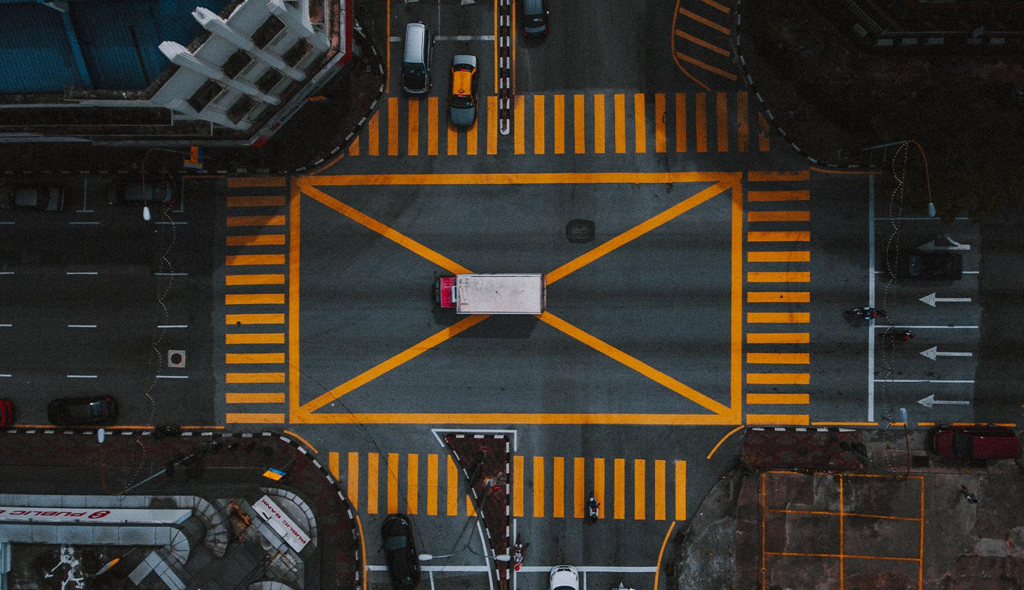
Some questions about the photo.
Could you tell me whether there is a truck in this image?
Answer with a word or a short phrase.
Yes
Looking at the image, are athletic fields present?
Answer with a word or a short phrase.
No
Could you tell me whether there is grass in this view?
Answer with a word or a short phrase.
No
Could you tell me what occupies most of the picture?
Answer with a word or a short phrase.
paved ground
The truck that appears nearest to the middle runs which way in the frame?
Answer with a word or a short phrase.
horizontally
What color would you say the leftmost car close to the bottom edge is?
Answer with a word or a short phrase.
black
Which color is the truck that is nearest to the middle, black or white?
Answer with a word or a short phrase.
white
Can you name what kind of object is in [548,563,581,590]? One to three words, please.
car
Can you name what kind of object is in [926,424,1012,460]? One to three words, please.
vehicle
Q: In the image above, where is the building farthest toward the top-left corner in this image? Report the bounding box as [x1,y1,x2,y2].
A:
[0,0,365,146]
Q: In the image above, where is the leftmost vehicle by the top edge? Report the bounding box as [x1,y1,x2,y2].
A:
[398,23,433,94]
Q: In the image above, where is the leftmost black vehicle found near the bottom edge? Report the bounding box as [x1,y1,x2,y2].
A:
[381,513,421,590]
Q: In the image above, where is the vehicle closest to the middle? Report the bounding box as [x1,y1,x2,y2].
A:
[432,271,550,313]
